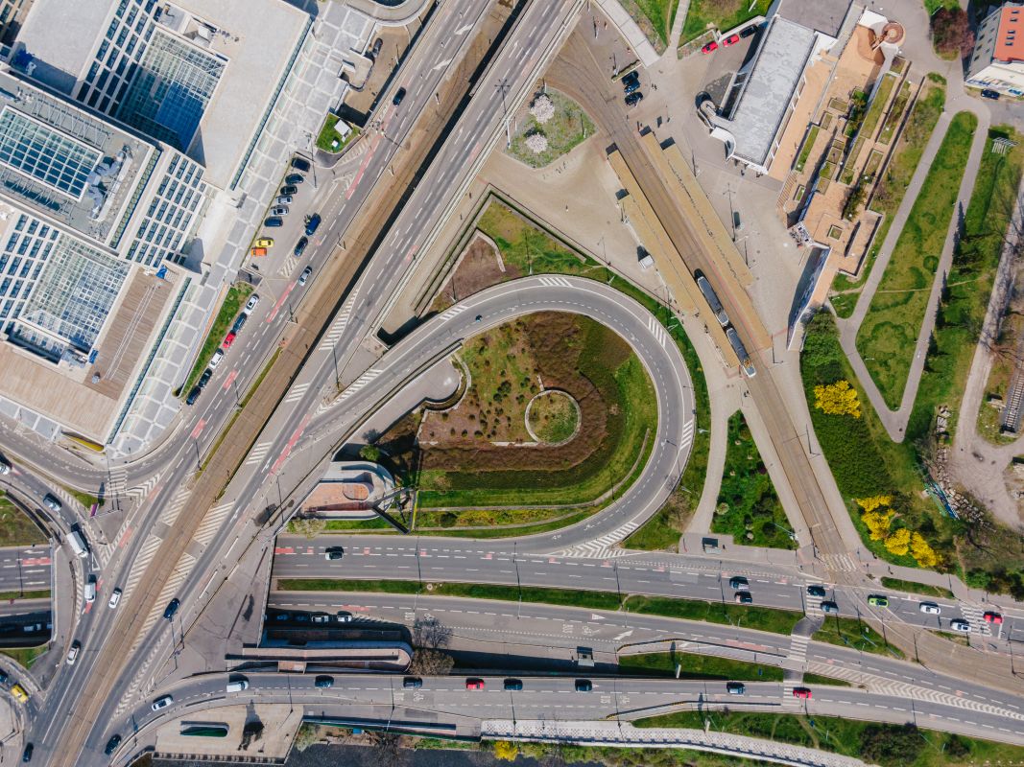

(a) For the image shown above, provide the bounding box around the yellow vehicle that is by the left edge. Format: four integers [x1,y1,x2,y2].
[10,684,29,703]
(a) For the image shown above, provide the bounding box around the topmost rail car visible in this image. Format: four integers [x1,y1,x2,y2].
[693,275,729,327]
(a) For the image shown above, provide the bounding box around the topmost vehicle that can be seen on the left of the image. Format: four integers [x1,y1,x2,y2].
[371,37,383,57]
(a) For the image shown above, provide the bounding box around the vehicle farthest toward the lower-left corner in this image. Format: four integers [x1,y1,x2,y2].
[23,743,35,763]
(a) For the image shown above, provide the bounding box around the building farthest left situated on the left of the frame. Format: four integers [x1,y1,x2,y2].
[0,0,324,447]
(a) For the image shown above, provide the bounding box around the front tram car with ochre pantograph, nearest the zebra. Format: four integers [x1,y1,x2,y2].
[722,327,757,378]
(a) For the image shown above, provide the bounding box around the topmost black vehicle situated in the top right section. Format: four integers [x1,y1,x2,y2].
[738,24,758,38]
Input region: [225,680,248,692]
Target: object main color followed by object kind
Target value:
white vehicle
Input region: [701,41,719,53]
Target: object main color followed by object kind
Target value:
red vehicle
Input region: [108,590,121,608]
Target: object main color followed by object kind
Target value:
white vehicle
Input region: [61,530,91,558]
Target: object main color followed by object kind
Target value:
white truck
